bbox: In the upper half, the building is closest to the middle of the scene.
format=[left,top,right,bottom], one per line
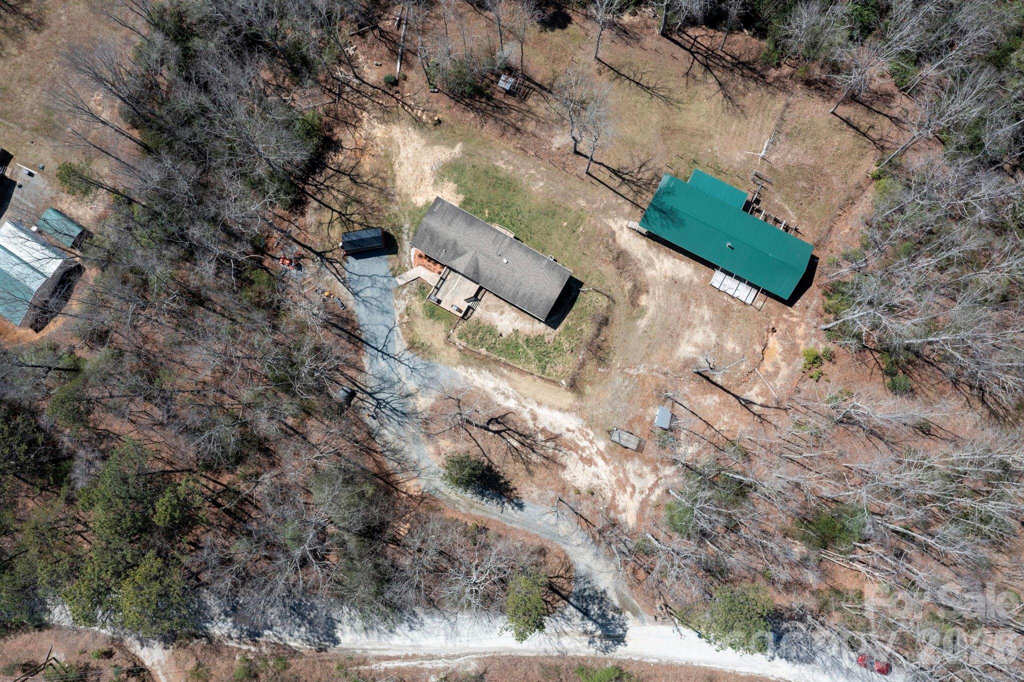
[410,197,572,322]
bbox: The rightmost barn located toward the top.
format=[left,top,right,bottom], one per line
[638,169,814,300]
